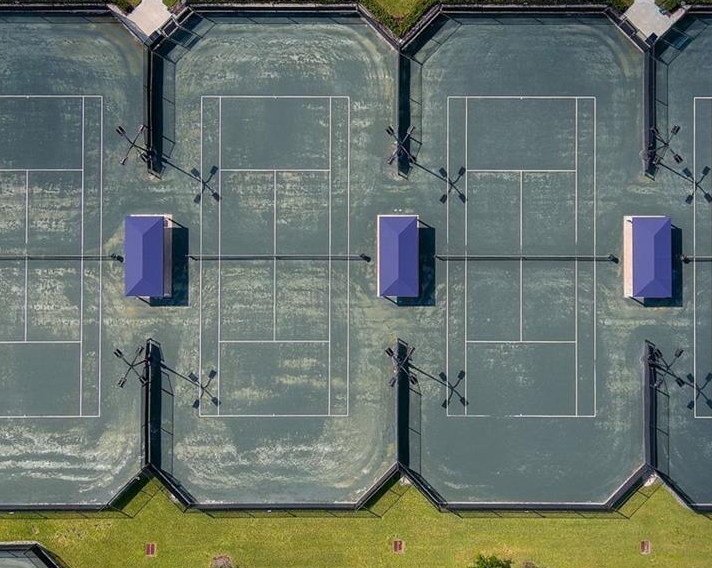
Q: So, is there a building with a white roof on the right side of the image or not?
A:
No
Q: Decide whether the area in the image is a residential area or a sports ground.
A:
sports ground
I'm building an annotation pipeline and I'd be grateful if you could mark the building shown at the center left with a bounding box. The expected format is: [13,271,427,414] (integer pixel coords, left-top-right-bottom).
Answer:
[125,214,172,297]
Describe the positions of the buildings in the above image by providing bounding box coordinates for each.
[624,215,671,297]
[125,214,172,297]
[377,215,419,297]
